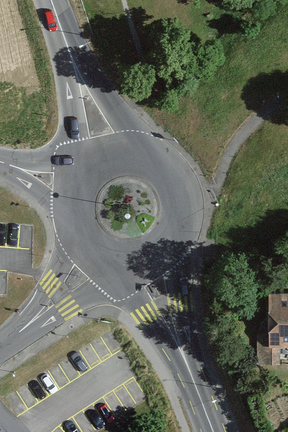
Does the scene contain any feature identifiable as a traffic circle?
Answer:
Yes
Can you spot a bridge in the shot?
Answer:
No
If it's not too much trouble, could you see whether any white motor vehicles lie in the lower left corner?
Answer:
Yes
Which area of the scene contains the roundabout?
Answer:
center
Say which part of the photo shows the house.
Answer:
bottom right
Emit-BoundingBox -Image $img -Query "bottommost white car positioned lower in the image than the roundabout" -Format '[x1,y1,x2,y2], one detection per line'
[40,374,58,394]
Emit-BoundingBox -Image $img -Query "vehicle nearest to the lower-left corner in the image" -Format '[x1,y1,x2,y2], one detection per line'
[28,379,47,400]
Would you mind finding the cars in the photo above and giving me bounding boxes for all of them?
[40,374,58,394]
[70,116,80,139]
[0,223,6,246]
[28,379,47,400]
[44,10,58,32]
[97,404,114,424]
[65,420,80,432]
[8,223,19,246]
[52,156,74,166]
[87,410,105,432]
[71,351,89,373]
